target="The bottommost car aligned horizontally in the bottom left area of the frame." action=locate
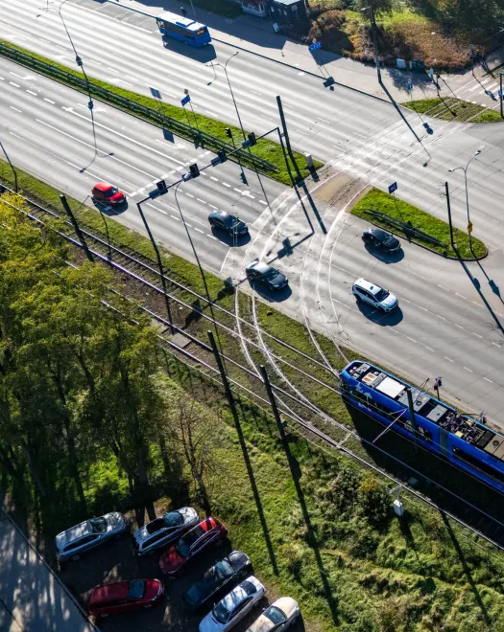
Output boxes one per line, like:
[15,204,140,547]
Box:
[92,578,162,620]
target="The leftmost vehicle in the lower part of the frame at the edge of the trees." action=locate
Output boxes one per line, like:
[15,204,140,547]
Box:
[57,517,126,562]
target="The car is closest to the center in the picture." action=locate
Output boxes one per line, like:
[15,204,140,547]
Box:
[246,263,289,293]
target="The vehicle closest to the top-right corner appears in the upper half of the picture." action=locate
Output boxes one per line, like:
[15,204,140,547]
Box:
[361,227,401,254]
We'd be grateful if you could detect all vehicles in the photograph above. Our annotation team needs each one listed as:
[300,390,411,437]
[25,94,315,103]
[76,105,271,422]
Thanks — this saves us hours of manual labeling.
[209,212,248,238]
[92,578,162,620]
[182,552,254,611]
[130,509,202,556]
[201,577,265,632]
[352,278,398,312]
[91,183,125,207]
[247,601,300,632]
[153,8,212,46]
[164,519,227,575]
[57,517,126,562]
[246,263,289,293]
[361,227,401,254]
